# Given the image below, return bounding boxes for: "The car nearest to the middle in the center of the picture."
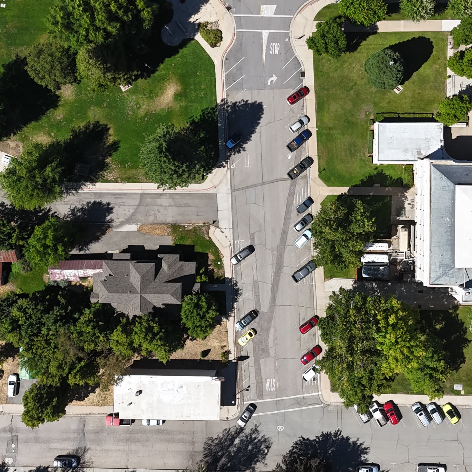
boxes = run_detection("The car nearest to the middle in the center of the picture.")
[231,244,255,266]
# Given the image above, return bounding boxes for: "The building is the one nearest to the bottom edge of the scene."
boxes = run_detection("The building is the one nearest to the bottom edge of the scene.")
[114,369,225,420]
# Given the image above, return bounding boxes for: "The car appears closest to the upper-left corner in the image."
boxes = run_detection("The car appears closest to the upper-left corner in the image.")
[225,133,243,149]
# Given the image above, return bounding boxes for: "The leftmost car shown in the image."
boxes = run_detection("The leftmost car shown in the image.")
[6,374,18,397]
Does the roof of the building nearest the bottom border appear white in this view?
Yes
